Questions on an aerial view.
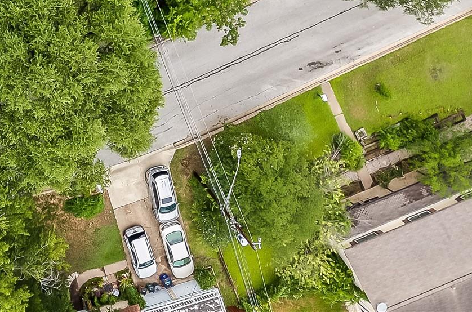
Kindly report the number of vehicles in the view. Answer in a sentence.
In total, 3 vehicles can be seen.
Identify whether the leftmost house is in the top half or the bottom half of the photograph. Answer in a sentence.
The bottom half of the photo is where the leftmost house is.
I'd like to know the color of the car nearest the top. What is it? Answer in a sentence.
The car nearest the top is white.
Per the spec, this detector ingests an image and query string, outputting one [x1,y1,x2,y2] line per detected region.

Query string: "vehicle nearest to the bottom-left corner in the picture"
[123,225,161,286]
